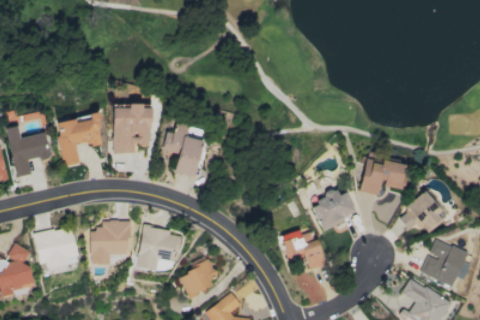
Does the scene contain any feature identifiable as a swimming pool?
Yes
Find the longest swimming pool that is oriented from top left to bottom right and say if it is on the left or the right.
right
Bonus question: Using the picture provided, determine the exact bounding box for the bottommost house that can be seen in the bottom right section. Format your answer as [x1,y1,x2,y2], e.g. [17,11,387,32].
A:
[398,279,452,320]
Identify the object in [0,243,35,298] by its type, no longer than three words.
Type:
house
